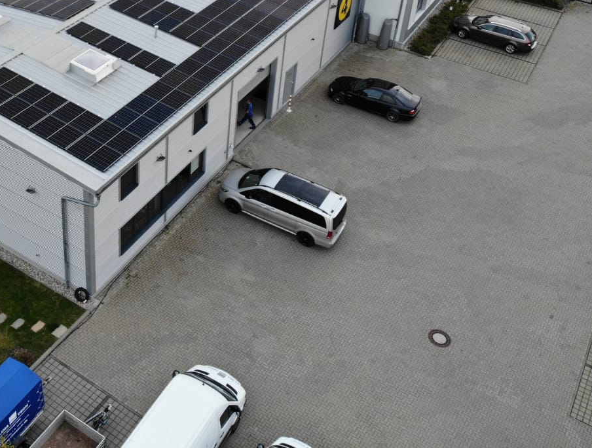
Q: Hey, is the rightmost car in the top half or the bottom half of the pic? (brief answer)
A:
top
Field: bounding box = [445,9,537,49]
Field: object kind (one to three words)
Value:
car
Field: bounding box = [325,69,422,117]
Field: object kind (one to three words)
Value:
car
